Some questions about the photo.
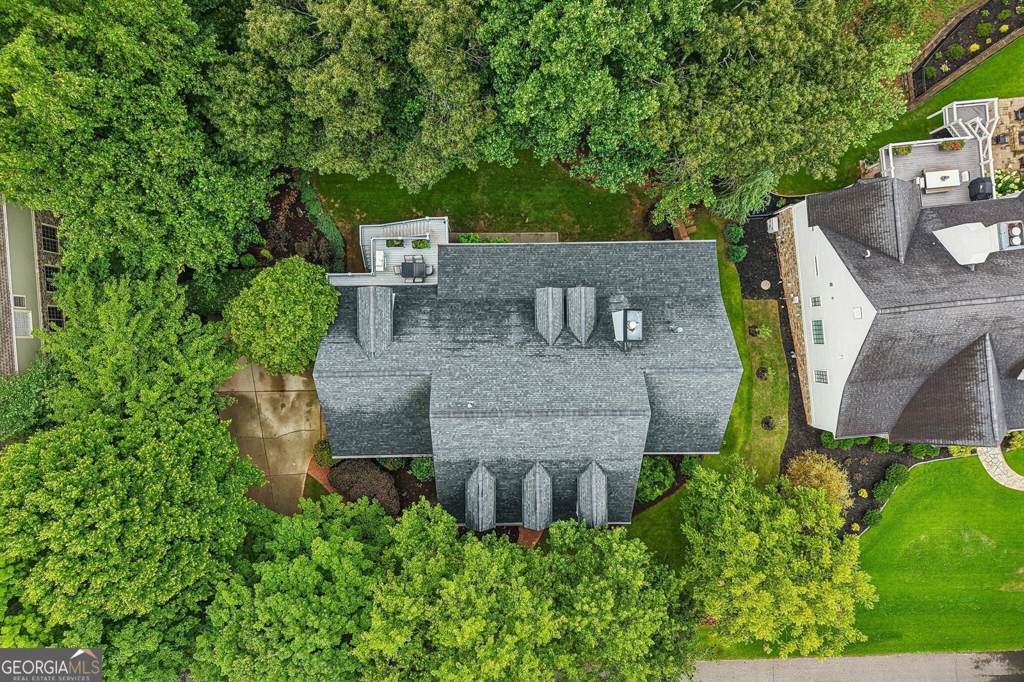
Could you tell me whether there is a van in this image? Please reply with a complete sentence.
No, the picture doesn't show any van.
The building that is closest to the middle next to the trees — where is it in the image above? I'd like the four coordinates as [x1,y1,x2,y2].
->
[313,240,743,532]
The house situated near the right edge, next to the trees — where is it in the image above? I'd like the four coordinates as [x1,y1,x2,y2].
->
[772,176,1024,445]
